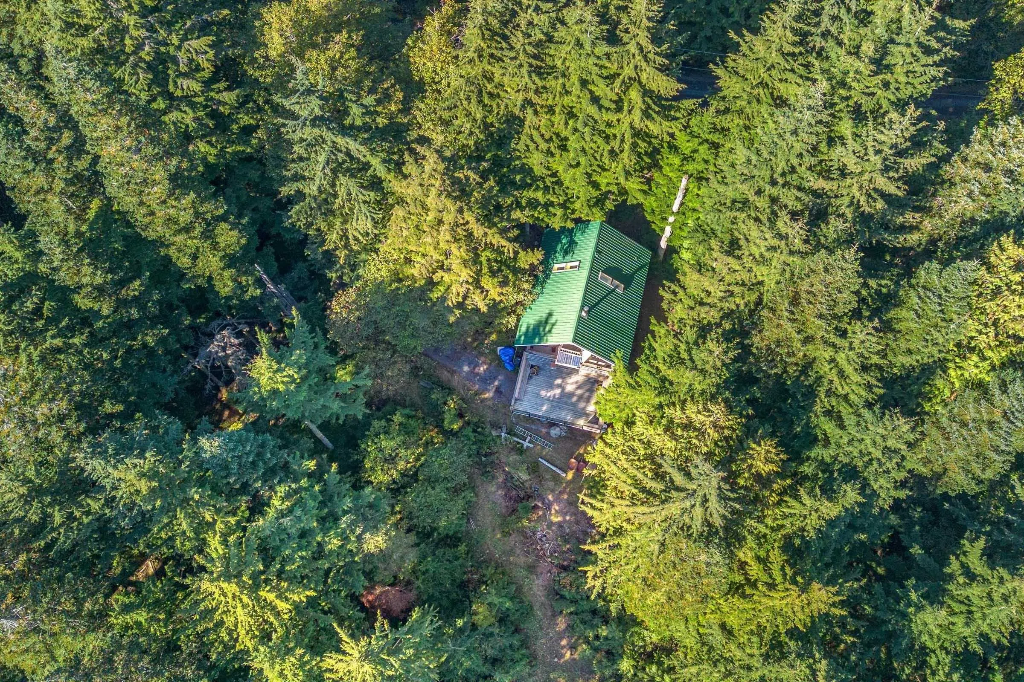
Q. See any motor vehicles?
No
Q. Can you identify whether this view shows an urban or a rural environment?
rural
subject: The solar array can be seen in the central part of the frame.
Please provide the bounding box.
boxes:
[555,345,583,369]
